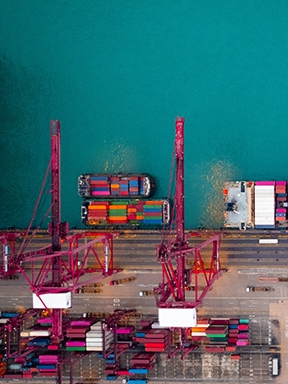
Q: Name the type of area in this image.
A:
port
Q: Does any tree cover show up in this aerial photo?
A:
No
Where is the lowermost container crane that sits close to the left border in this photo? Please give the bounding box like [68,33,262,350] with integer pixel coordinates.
[5,311,45,359]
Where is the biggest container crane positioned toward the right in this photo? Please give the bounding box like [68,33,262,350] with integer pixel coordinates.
[153,115,229,343]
